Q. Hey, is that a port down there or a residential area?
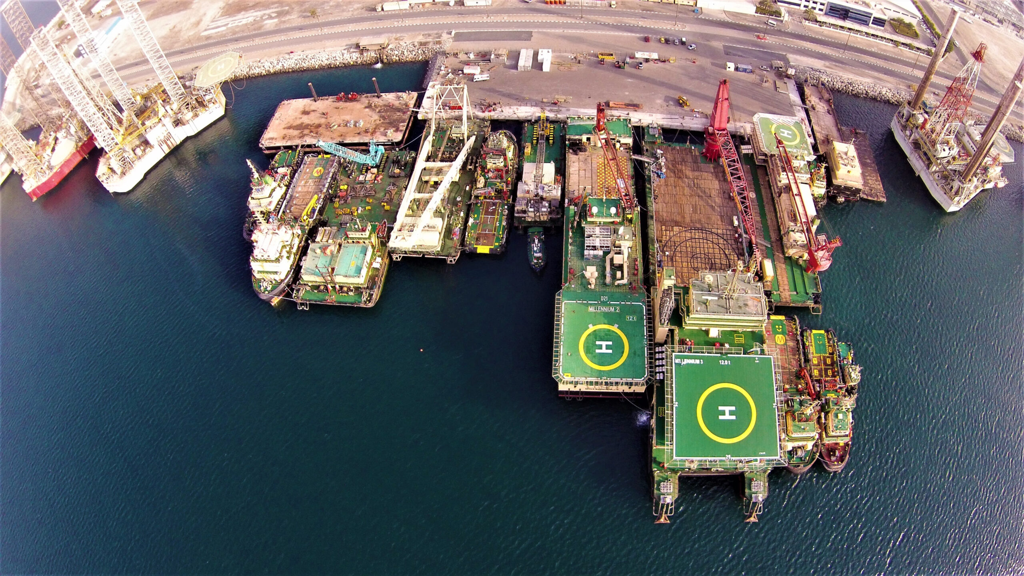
port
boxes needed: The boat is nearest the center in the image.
[526,229,547,274]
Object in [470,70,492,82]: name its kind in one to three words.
vehicle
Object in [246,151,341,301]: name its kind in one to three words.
ship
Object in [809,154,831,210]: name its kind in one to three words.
boat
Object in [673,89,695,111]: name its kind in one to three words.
work vehicle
